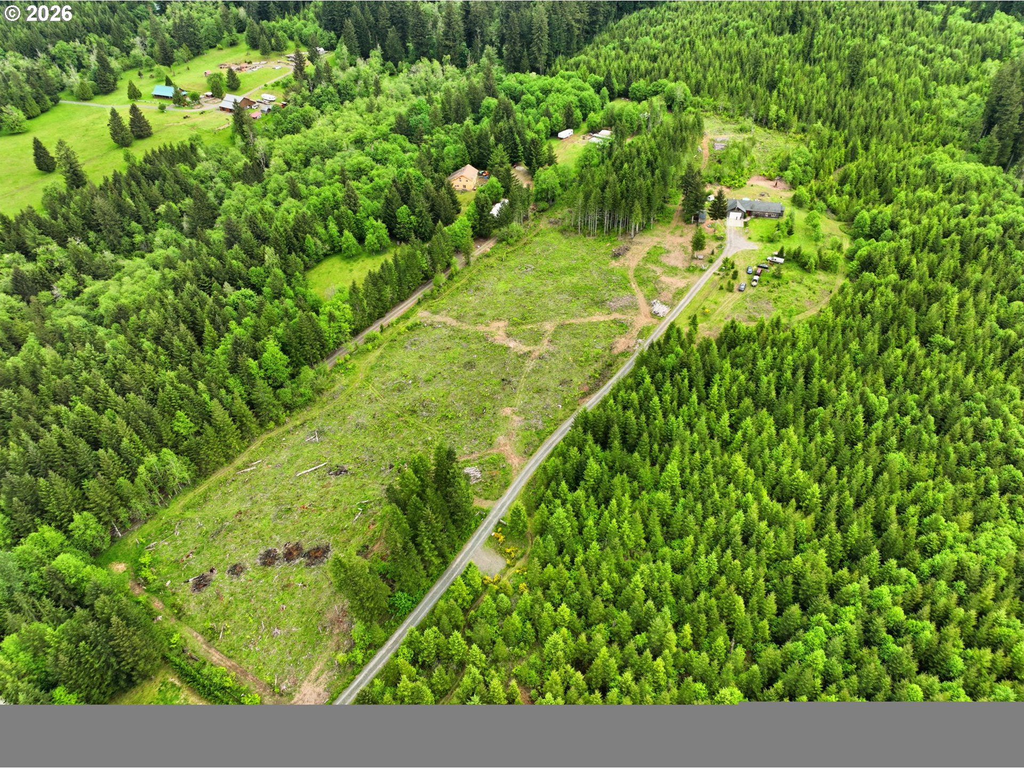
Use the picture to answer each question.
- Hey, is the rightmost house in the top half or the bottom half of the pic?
top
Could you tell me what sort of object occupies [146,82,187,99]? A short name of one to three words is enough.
house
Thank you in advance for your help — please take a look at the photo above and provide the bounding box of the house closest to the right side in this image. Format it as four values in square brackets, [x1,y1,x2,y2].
[726,199,788,223]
